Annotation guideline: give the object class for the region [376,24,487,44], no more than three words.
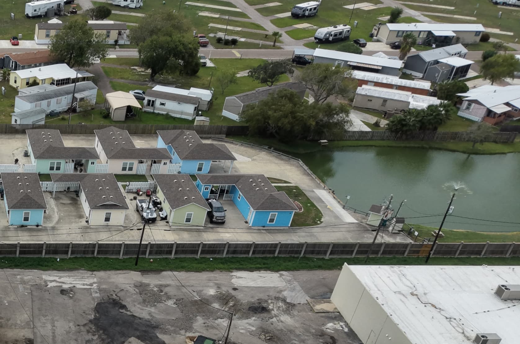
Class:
house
